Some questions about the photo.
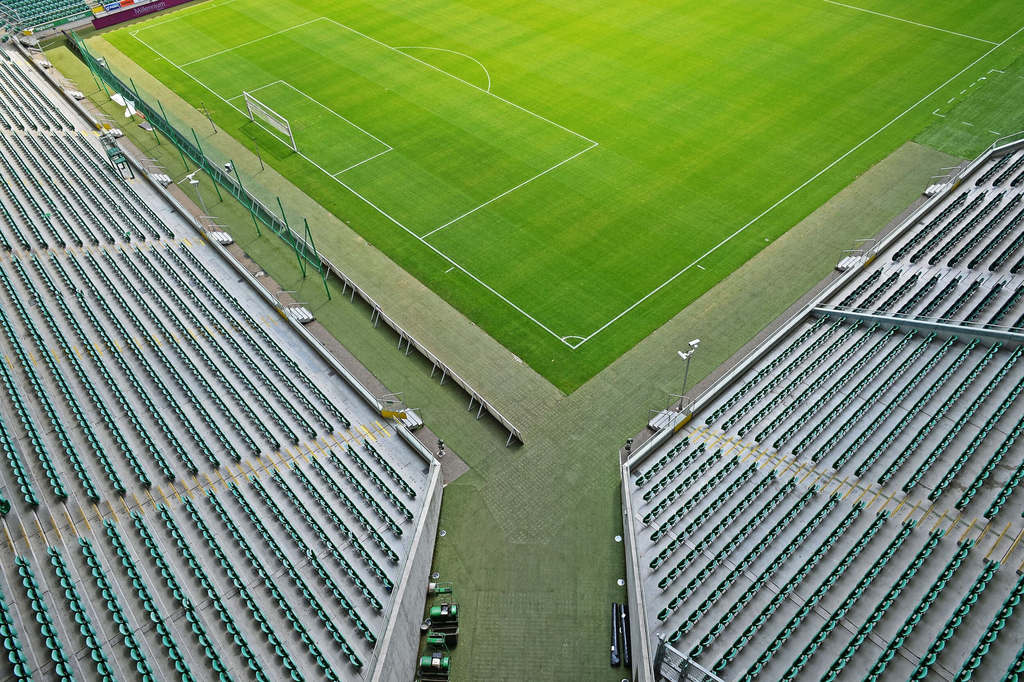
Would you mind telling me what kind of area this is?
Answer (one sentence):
The picture captures a sports ground.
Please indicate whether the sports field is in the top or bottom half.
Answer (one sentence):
The sports field sits in the top half of the picture.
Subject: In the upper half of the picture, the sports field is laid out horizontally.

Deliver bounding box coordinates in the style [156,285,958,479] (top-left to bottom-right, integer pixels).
[98,0,1024,397]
